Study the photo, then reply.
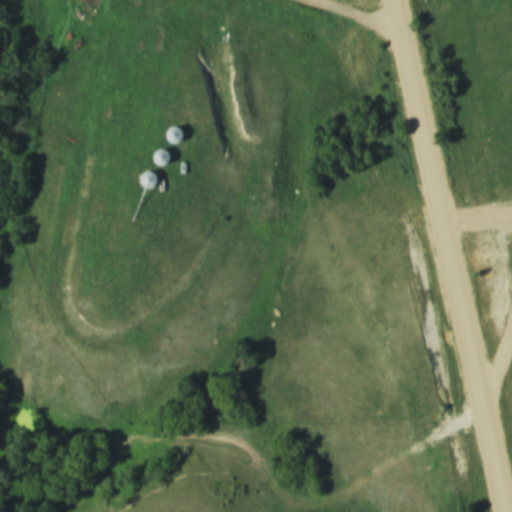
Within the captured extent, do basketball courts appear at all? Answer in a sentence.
No, there is no basketball court in the image.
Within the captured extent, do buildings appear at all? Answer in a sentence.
No, this view has no building in it.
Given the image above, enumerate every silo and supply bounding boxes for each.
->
[152,148,170,167]
[166,126,184,144]
[139,170,158,189]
